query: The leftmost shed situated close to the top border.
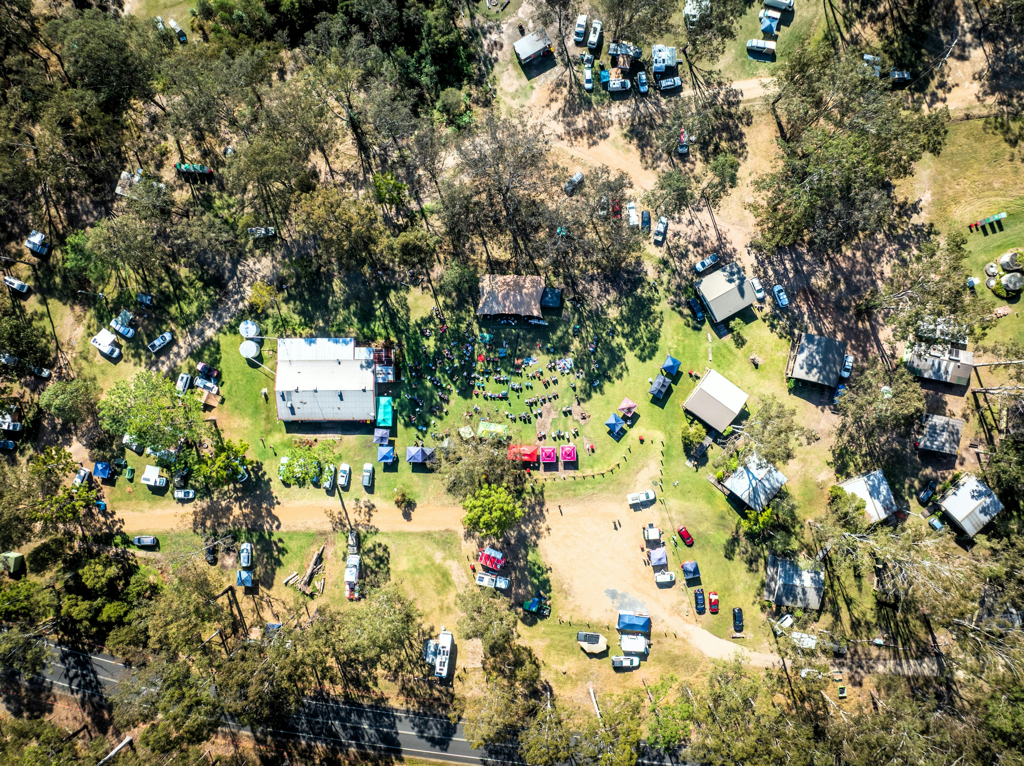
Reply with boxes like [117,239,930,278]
[514,28,551,65]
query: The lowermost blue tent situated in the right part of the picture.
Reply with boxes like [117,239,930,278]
[618,611,648,631]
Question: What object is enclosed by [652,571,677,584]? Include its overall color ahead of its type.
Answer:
white vehicle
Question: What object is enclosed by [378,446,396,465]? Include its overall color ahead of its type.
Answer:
blue gazebo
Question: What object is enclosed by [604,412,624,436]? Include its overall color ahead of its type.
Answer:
blue gazebo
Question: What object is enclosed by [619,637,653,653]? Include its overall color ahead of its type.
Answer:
white camper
